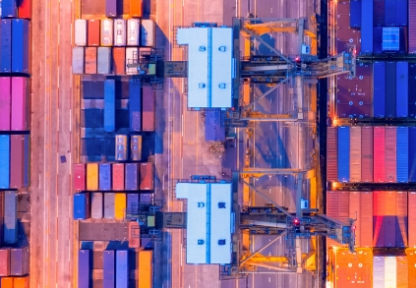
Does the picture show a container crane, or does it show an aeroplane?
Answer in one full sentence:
There is a container crane in the scene.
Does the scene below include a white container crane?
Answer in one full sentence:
No, no white container crane is visible in the scene.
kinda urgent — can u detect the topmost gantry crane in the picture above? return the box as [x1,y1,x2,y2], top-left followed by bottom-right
[116,3,370,145]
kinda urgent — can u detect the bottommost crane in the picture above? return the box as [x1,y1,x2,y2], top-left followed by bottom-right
[116,144,370,285]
